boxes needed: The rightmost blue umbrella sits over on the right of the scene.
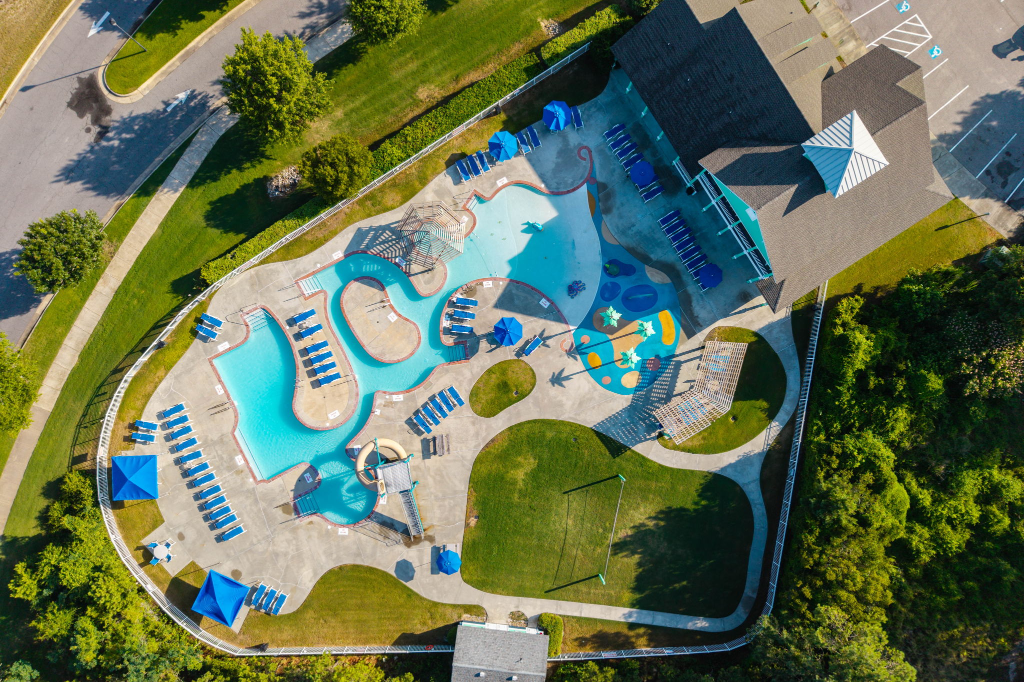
[695,263,722,290]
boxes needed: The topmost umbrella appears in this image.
[542,103,571,132]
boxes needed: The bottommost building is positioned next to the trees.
[451,612,549,682]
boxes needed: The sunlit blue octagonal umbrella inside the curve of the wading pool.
[494,316,522,345]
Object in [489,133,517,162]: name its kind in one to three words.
umbrella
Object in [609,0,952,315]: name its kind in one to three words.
building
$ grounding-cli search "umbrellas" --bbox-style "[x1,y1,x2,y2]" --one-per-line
[628,160,657,189]
[435,546,464,575]
[542,103,571,132]
[489,133,517,162]
[695,263,722,290]
[494,316,522,345]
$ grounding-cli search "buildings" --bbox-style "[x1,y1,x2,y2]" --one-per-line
[609,0,952,315]
[451,612,549,682]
